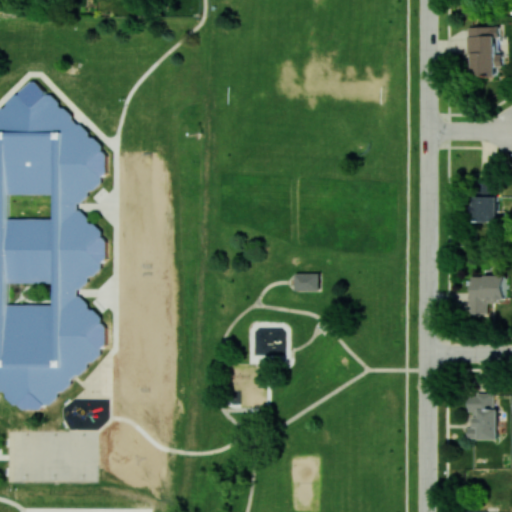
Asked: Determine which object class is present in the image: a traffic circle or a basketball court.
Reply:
basketball court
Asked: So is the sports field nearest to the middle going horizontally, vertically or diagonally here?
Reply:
horizontally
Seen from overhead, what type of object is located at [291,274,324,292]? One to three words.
building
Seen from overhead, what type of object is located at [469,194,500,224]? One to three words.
house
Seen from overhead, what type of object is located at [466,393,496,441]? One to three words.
house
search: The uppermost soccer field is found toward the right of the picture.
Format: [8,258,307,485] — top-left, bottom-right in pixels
[218,0,408,175]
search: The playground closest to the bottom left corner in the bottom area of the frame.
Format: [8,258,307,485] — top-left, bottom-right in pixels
[62,399,110,430]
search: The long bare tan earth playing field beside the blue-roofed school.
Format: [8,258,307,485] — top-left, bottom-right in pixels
[18,146,185,506]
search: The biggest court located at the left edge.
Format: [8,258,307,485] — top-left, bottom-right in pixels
[8,431,100,482]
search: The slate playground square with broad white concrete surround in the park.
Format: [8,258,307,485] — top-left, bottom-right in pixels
[250,321,295,368]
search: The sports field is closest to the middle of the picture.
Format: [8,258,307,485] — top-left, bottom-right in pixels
[216,170,407,254]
